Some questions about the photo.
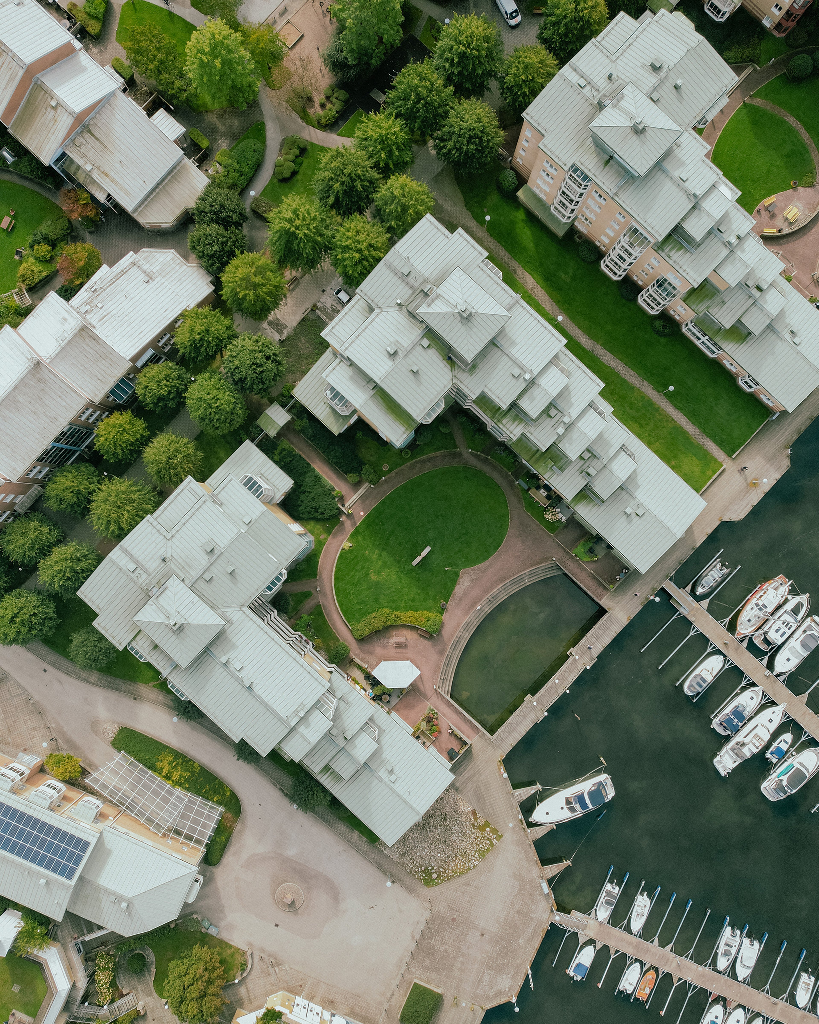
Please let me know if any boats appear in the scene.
Yes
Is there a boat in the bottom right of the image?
Yes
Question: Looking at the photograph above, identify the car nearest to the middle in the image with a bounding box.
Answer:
[333,287,353,308]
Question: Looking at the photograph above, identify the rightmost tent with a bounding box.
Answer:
[371,658,421,688]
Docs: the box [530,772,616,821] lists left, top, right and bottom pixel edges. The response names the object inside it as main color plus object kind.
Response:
white boat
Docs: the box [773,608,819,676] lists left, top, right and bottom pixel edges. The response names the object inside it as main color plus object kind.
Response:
white boat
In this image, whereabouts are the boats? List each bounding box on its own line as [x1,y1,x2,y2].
[764,734,794,764]
[735,575,792,636]
[631,891,652,935]
[709,687,764,740]
[617,962,642,995]
[635,969,657,1003]
[718,924,741,971]
[749,595,811,652]
[751,1017,765,1024]
[796,969,817,1009]
[680,656,725,701]
[696,559,732,596]
[599,881,621,922]
[735,935,761,981]
[756,745,819,804]
[697,1003,725,1024]
[722,1007,745,1024]
[569,946,596,983]
[708,704,788,779]
[530,772,616,821]
[773,608,819,676]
